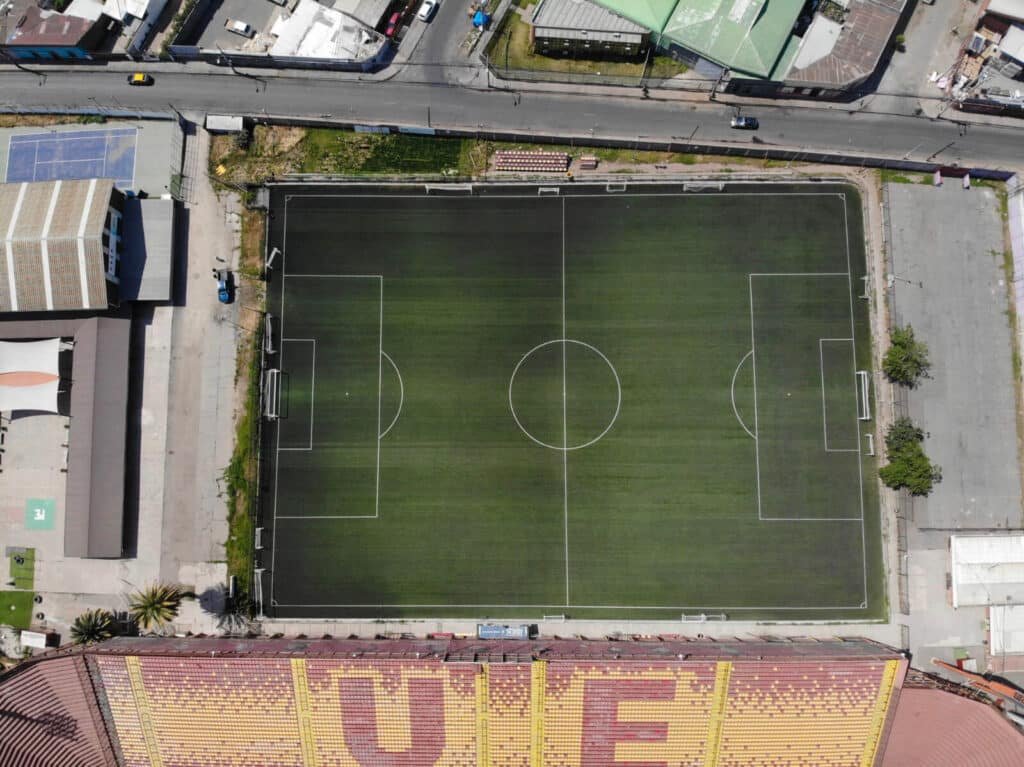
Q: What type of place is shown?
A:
sports ground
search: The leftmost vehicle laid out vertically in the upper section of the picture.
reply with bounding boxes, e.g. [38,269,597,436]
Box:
[216,269,231,301]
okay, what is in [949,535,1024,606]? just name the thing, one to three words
shed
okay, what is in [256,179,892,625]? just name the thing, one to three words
soccer field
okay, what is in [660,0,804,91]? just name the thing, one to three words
building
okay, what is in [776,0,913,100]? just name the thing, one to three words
building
